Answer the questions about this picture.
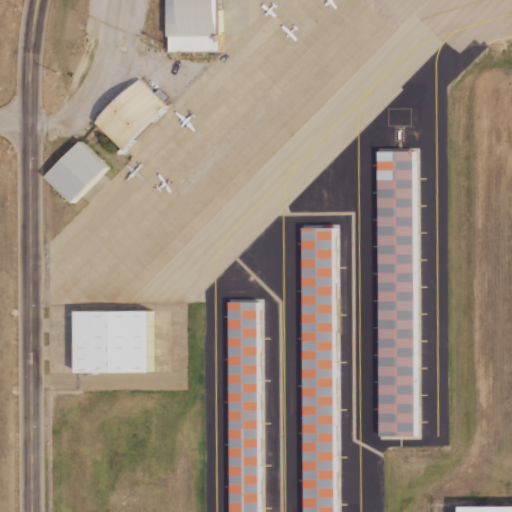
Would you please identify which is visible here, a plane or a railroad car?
plane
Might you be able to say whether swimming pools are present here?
No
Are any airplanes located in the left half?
Yes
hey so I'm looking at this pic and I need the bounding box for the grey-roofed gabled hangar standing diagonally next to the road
[44,142,111,203]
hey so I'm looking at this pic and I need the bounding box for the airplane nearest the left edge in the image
[127,162,143,181]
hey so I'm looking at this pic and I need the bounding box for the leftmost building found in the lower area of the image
[72,311,155,373]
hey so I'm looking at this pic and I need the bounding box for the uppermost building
[166,0,227,53]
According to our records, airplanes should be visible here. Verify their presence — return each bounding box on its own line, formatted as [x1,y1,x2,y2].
[282,24,298,42]
[158,172,171,194]
[327,0,336,9]
[127,162,143,181]
[262,2,277,18]
[176,110,195,134]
